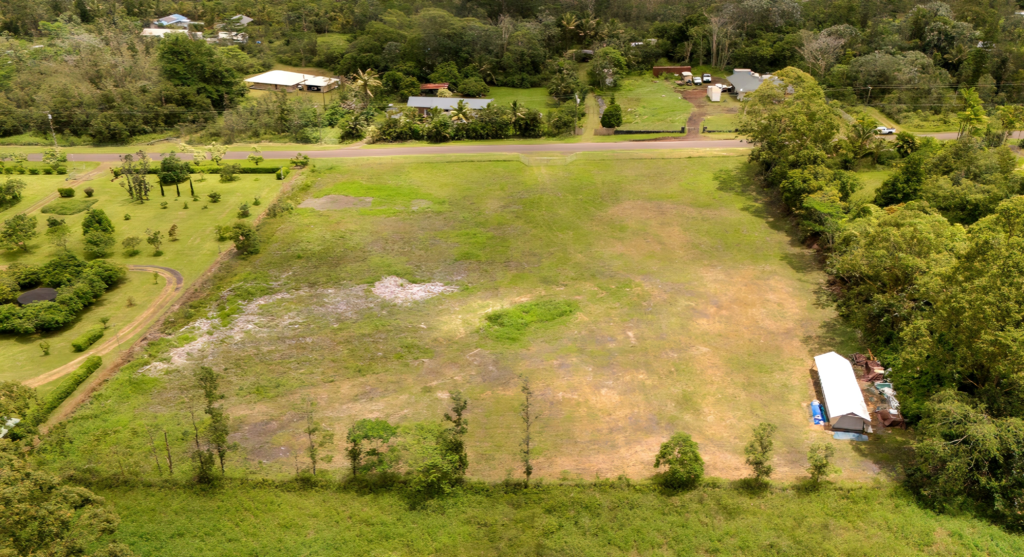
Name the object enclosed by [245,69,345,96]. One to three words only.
house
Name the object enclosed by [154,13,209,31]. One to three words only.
house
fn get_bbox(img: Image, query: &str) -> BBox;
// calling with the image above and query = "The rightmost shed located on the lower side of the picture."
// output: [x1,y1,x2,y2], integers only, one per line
[813,351,870,432]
